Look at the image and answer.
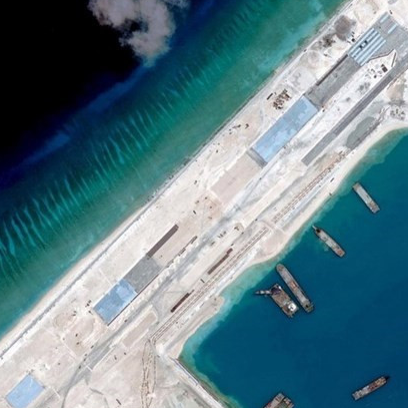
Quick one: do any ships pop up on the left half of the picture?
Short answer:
No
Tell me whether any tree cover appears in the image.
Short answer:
No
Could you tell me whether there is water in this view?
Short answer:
Yes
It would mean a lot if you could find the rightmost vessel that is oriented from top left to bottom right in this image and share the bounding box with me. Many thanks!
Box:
[354,183,379,213]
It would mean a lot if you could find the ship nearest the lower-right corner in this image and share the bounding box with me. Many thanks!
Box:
[353,376,387,398]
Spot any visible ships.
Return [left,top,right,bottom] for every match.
[277,264,315,313]
[255,286,298,315]
[353,376,387,398]
[266,392,286,408]
[313,225,345,257]
[354,183,379,213]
